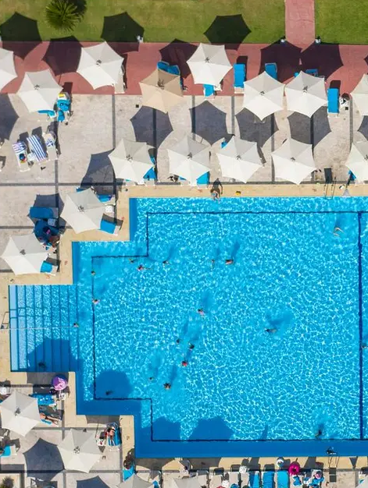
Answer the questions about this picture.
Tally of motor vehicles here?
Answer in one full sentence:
I count no motor vehicles.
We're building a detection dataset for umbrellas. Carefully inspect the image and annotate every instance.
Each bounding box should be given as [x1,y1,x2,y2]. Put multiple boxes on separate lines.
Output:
[60,188,107,233]
[271,138,316,186]
[243,74,285,120]
[108,137,155,182]
[114,473,155,488]
[57,428,104,473]
[352,74,368,114]
[218,138,263,182]
[79,45,125,91]
[187,43,233,86]
[0,49,19,90]
[0,390,42,436]
[2,232,49,276]
[142,67,186,112]
[283,69,328,115]
[18,69,65,114]
[170,135,213,182]
[346,141,368,184]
